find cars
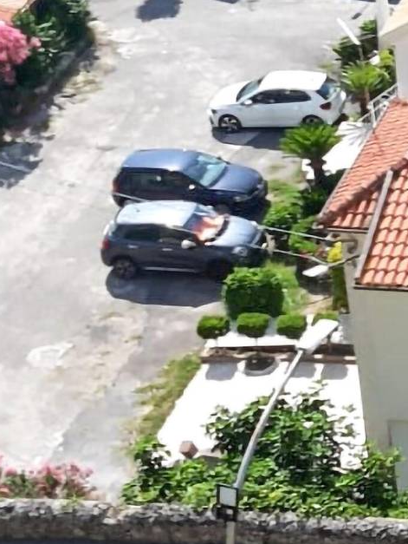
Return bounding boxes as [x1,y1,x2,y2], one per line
[205,65,343,134]
[96,195,267,279]
[121,141,276,213]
